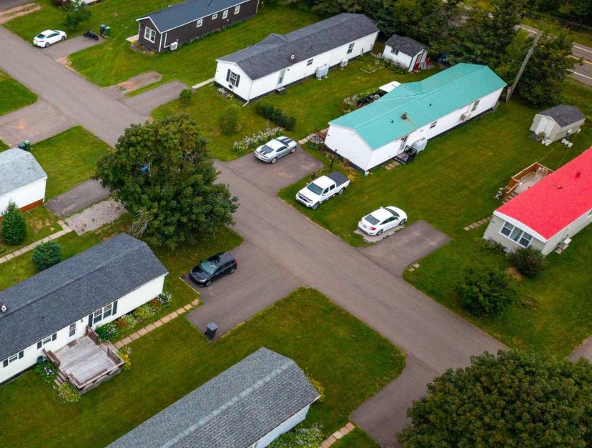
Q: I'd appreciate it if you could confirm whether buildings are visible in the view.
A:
Yes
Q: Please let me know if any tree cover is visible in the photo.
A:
Yes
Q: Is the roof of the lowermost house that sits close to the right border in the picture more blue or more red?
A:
red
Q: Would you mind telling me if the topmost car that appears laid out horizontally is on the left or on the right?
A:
left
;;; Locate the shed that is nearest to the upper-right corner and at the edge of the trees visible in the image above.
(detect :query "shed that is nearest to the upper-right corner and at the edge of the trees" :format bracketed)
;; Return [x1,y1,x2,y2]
[528,103,585,143]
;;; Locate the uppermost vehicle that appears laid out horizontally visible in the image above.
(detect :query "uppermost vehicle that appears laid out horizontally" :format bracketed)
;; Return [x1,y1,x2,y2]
[30,28,69,49]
